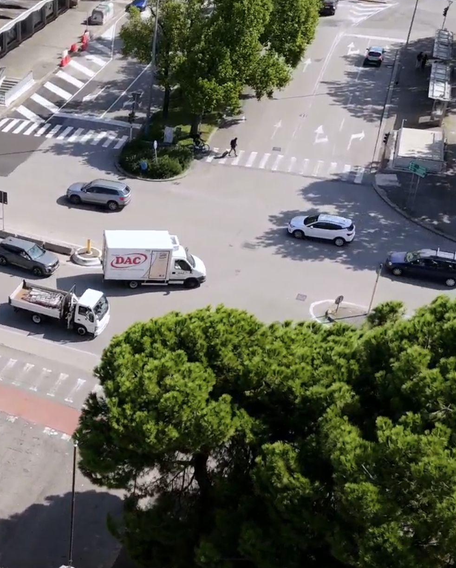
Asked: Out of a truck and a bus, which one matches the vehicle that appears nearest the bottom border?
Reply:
truck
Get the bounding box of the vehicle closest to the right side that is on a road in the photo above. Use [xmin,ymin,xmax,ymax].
[385,246,456,283]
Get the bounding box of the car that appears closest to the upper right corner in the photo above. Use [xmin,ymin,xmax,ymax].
[365,42,390,65]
